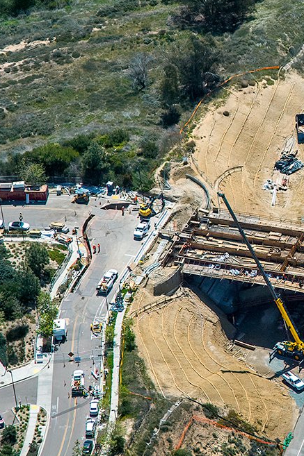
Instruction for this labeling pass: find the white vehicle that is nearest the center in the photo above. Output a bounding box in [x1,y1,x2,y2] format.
[134,219,149,239]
